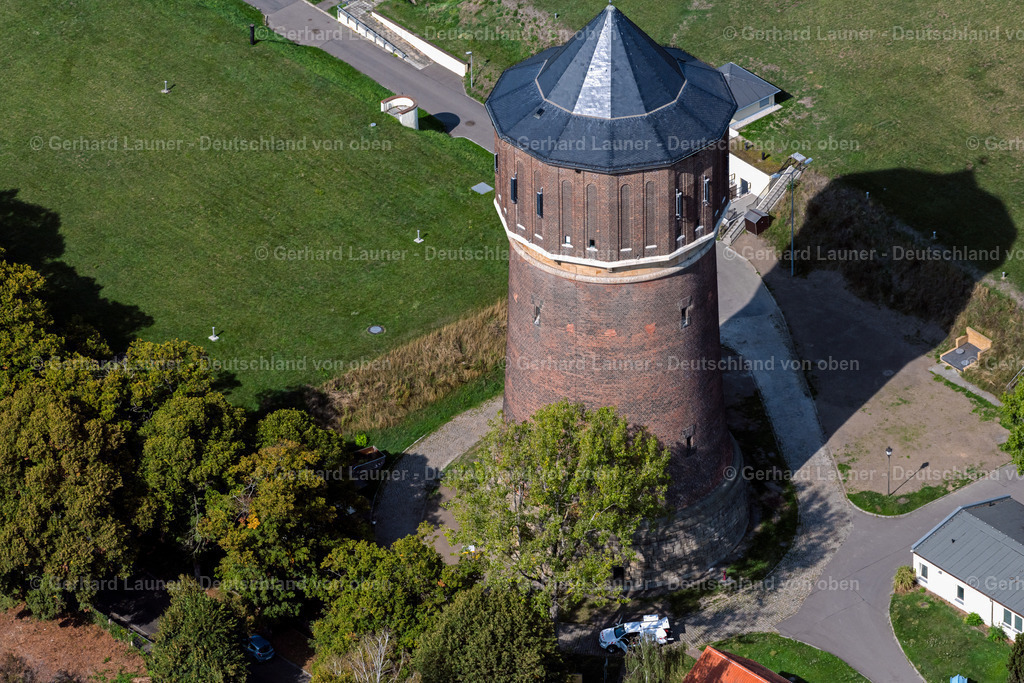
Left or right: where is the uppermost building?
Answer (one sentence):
The uppermost building sits on the right side.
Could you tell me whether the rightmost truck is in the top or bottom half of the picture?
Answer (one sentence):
The rightmost truck sits in the bottom half of the picture.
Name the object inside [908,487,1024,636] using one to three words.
building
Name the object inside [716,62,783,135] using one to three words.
building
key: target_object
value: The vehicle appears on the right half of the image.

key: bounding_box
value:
[597,609,674,652]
